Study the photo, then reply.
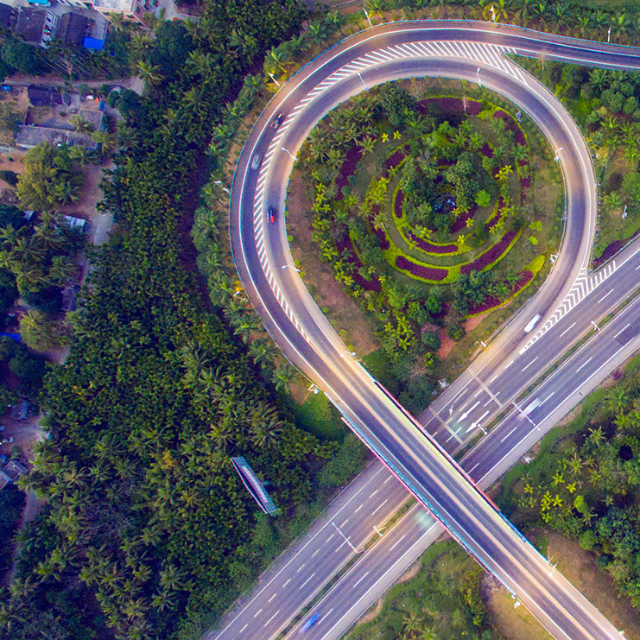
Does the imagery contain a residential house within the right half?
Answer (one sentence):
No, no residential house appears within the right half.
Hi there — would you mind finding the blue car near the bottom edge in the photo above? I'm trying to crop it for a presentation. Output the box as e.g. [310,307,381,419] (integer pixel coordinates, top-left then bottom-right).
[302,614,318,631]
